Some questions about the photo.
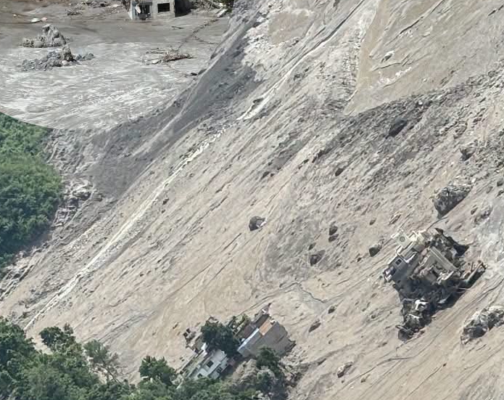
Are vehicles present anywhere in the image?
No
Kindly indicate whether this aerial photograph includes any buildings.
Yes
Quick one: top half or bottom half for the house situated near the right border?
bottom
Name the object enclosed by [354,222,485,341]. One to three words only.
house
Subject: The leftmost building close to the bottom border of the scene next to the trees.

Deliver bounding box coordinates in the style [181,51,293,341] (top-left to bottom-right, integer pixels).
[168,334,223,386]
